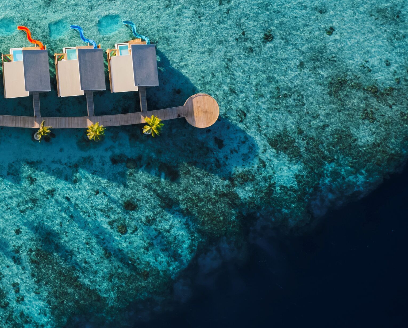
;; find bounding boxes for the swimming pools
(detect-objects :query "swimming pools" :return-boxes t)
[114,42,129,55]
[10,48,23,61]
[63,46,77,59]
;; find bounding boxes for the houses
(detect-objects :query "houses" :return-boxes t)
[1,26,51,98]
[55,25,106,97]
[107,20,159,92]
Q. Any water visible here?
Yes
